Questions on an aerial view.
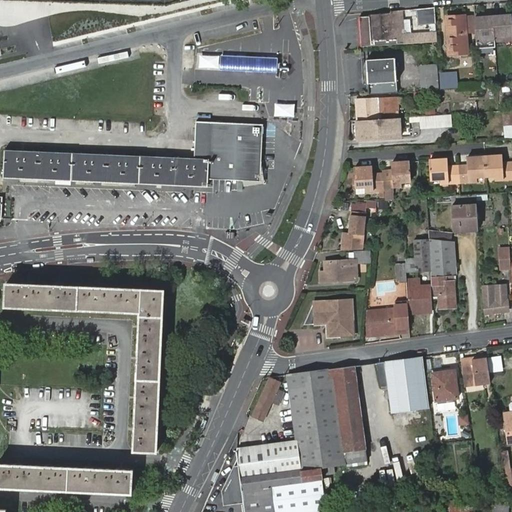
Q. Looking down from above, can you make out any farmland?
No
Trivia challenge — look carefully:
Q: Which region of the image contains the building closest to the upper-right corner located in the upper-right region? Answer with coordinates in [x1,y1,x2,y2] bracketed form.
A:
[468,14,512,54]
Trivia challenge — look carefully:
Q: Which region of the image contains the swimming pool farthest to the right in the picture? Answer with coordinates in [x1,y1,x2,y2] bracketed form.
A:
[444,412,460,438]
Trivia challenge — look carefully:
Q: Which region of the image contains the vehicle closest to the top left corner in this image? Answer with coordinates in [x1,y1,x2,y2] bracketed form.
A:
[54,60,88,74]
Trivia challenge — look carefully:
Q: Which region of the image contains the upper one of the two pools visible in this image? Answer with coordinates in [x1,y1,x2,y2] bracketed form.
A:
[376,280,397,294]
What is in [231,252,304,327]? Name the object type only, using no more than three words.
roundabout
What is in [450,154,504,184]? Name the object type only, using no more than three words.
house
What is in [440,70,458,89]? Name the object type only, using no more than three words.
shed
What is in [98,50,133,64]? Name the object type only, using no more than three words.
vehicle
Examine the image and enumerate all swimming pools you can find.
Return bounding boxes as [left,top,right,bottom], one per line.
[376,280,397,294]
[444,412,460,438]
